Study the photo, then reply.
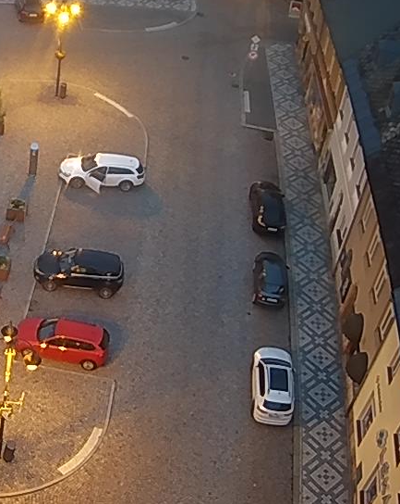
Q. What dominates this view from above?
paved ground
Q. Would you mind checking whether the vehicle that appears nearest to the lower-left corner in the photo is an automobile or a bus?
automobile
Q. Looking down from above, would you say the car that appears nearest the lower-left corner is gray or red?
red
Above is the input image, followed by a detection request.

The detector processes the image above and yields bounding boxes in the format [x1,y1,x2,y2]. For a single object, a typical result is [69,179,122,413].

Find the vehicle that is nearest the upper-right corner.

[245,178,289,239]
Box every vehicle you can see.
[32,247,129,300]
[58,152,148,198]
[18,0,45,21]
[245,242,292,309]
[246,338,299,431]
[245,178,289,239]
[10,313,112,371]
